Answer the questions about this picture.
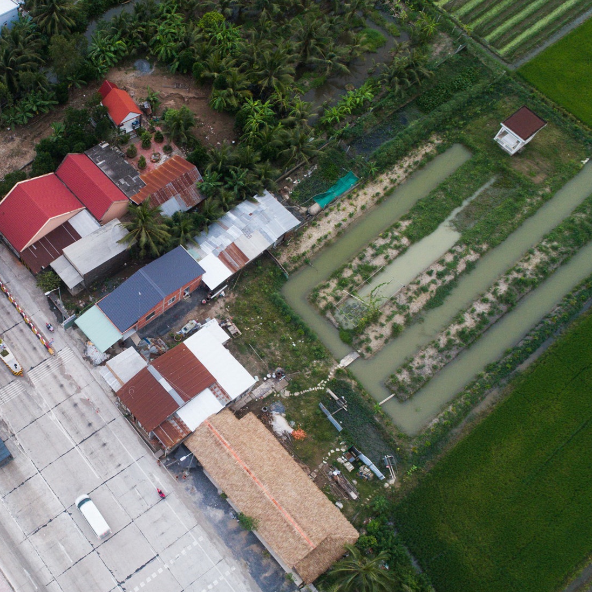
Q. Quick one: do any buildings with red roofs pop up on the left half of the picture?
Yes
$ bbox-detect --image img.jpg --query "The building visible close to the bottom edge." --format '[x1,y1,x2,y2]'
[177,409,361,585]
